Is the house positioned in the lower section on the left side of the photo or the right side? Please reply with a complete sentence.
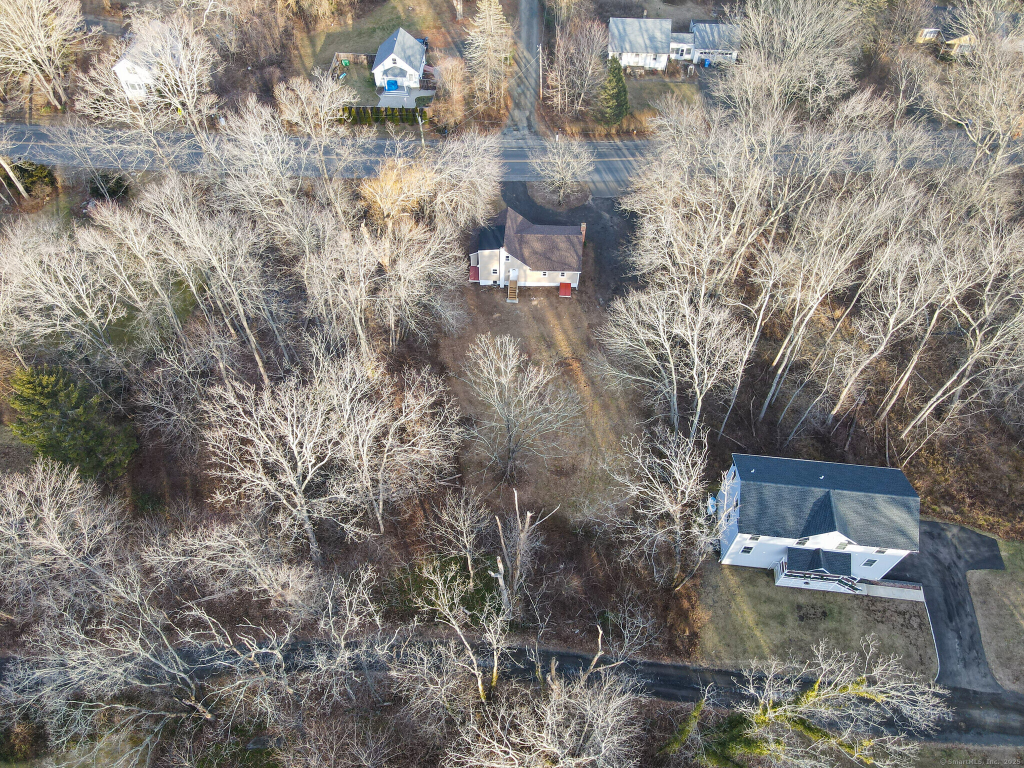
You can find the house positioned in the lower section on the right side of the picture.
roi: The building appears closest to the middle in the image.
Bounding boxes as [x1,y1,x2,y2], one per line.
[468,204,586,303]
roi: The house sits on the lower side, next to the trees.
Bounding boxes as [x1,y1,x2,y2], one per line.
[716,454,921,594]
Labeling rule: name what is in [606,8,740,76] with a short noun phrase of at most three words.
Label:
house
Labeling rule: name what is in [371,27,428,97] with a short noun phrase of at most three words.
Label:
house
